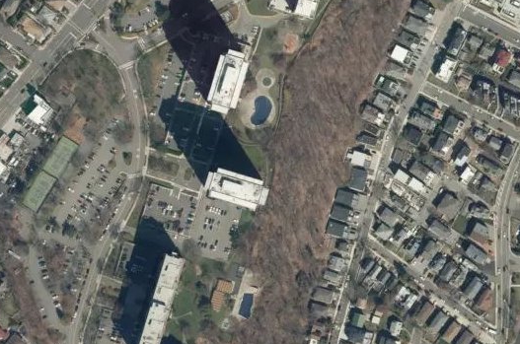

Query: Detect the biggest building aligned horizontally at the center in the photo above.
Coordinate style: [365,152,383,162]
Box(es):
[205,169,271,208]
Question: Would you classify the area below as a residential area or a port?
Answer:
residential area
